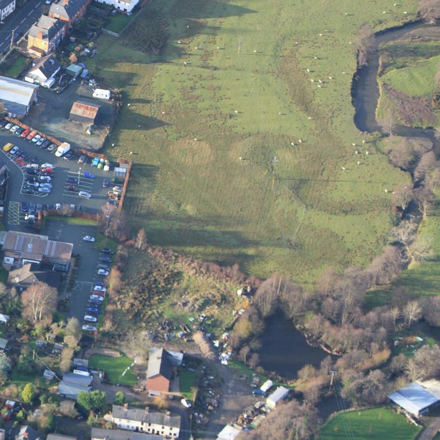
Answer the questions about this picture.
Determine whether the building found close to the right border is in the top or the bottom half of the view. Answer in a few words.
bottom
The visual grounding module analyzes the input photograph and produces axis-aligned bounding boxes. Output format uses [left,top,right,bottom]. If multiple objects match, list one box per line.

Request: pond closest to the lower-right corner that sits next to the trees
[259,302,336,380]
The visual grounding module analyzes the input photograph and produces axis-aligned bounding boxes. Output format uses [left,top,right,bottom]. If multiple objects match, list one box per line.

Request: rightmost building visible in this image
[389,381,440,425]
